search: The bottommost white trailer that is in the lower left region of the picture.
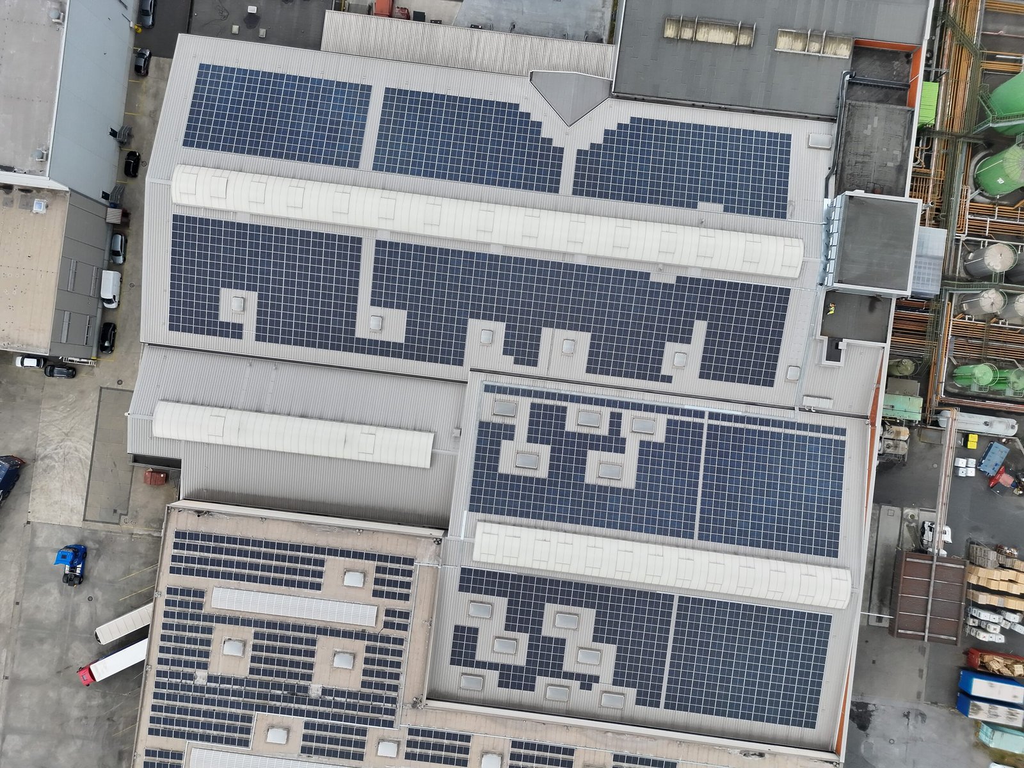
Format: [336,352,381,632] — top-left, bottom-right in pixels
[90,637,146,682]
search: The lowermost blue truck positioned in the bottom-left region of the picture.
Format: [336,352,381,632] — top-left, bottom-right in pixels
[55,544,87,587]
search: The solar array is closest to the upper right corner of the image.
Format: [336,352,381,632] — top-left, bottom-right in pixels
[572,116,792,219]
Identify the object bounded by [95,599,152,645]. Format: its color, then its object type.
white trailer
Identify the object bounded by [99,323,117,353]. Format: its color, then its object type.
black car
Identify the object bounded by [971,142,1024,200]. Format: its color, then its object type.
green storage tank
